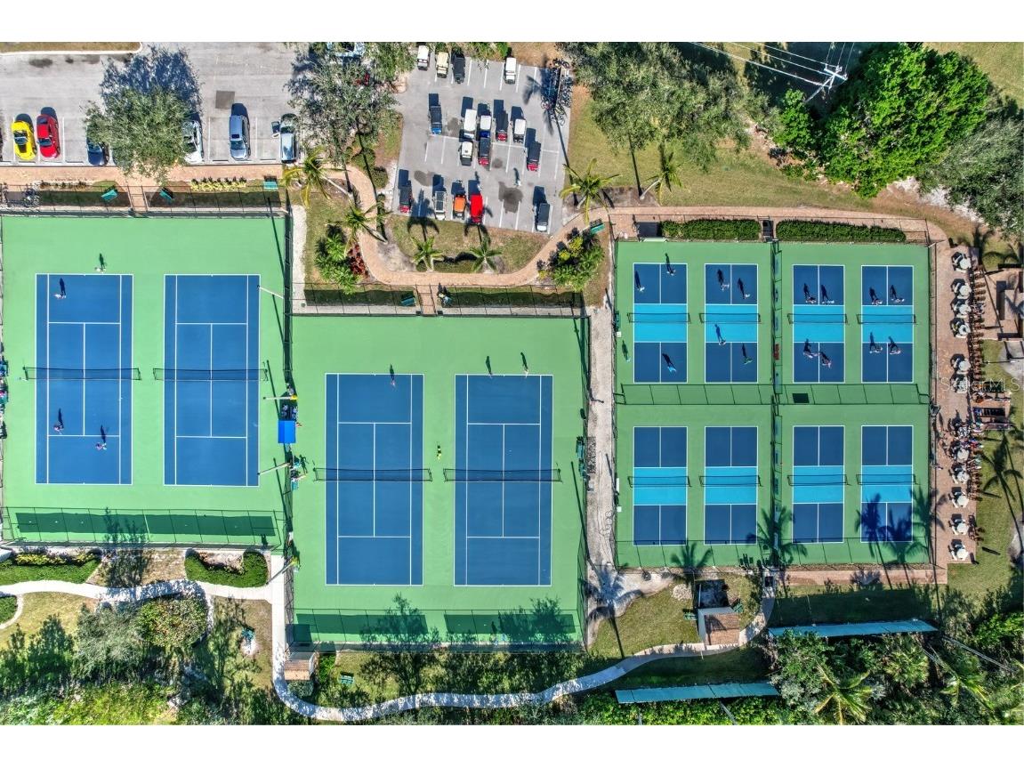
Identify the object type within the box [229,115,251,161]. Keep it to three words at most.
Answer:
car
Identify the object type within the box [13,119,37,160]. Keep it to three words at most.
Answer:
car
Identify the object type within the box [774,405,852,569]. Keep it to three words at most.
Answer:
sports court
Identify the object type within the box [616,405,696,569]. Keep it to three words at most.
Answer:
sports court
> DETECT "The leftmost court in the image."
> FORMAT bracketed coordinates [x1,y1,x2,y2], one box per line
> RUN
[2,216,148,542]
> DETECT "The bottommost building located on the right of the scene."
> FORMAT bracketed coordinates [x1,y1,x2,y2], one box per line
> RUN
[698,608,743,649]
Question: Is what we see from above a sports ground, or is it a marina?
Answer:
sports ground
